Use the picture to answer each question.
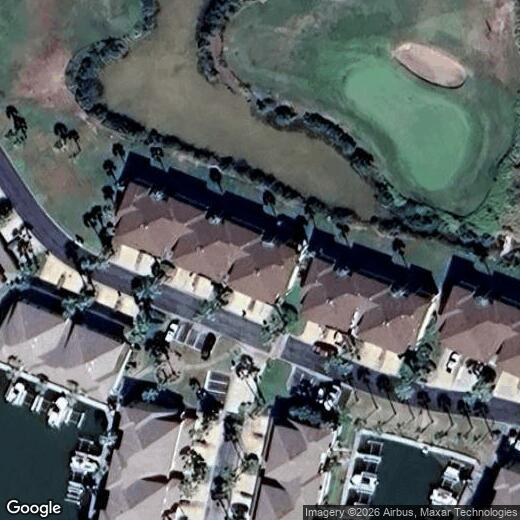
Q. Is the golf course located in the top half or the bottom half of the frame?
top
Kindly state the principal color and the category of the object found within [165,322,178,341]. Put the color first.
white vehicle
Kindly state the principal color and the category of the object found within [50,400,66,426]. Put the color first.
white boat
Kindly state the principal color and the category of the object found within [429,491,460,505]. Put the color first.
white boat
